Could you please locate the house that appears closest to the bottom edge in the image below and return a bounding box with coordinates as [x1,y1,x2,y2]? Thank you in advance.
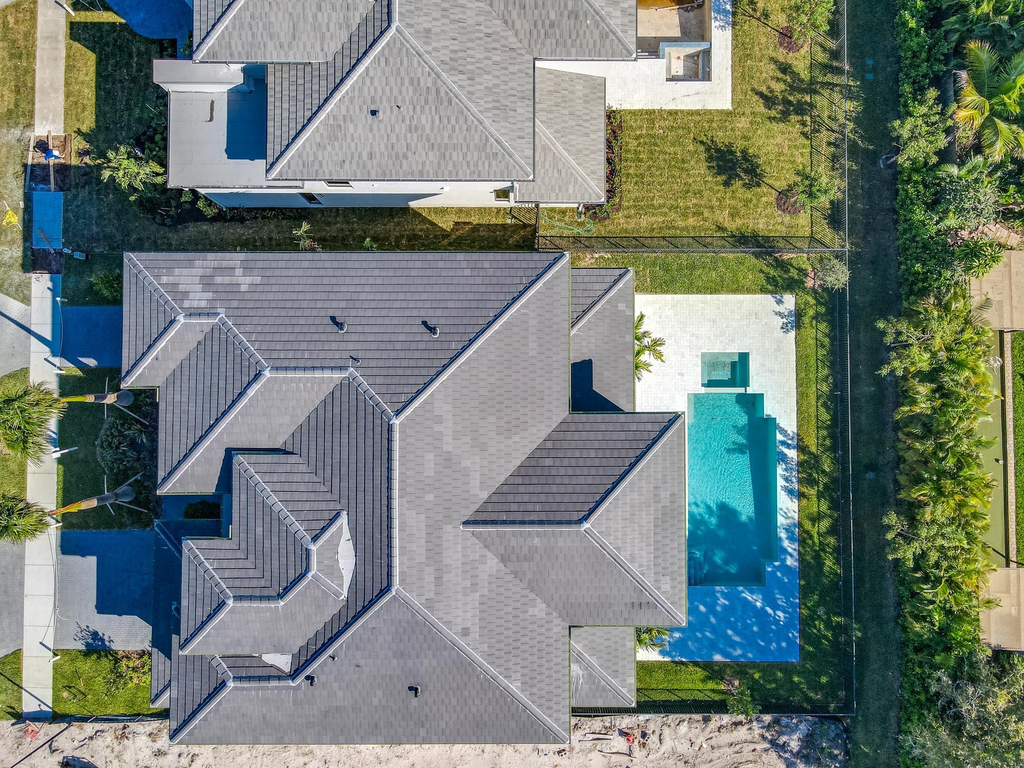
[118,248,689,747]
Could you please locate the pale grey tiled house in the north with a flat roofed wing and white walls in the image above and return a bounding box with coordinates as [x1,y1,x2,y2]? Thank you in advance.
[159,0,639,219]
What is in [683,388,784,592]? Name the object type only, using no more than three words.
swimming pool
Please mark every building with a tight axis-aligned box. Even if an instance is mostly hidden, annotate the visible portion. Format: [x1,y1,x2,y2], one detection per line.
[159,0,639,219]
[118,248,689,747]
